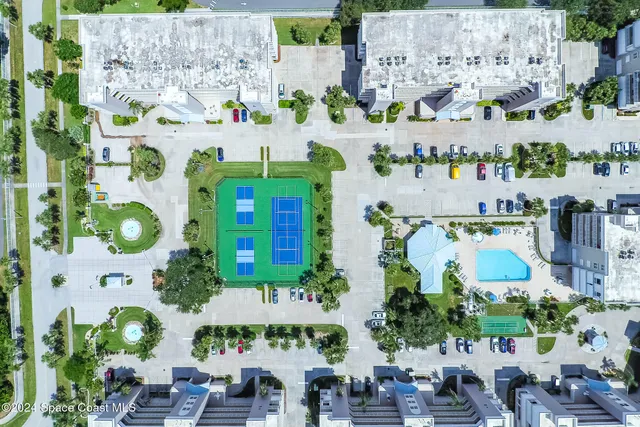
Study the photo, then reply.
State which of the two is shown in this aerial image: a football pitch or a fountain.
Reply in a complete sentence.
There is a fountain in the scene.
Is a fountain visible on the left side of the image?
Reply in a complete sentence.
Yes, a fountain appears on the left side of the image.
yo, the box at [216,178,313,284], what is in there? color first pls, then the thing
green sports court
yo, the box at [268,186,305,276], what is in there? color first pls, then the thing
blue tennis court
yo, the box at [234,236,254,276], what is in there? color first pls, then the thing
blue sports court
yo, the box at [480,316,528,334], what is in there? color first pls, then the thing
green sports court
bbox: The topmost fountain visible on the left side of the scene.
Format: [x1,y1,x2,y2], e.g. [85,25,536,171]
[119,218,142,241]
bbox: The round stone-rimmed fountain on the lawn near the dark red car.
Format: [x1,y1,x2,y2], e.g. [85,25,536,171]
[121,321,144,343]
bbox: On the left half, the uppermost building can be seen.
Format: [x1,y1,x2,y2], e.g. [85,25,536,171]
[73,8,279,124]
